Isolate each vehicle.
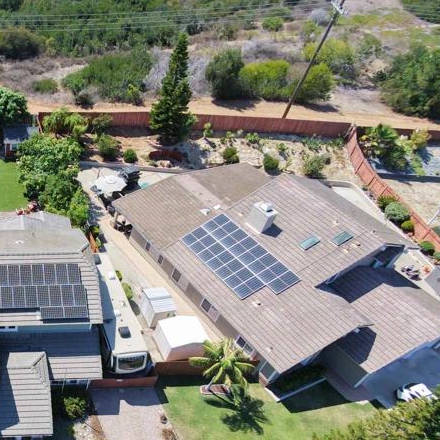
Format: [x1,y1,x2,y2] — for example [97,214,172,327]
[92,254,153,388]
[387,368,440,406]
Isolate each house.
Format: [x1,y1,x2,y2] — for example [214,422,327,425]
[0,211,103,440]
[107,163,440,385]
